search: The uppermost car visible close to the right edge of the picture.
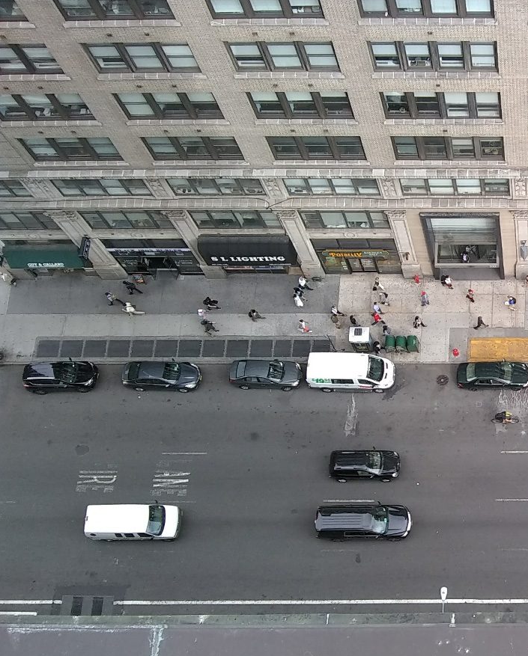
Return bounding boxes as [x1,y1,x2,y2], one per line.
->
[457,355,528,389]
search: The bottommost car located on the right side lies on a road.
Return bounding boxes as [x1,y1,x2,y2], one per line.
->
[314,498,413,540]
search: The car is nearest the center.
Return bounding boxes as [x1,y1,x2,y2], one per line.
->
[228,355,304,391]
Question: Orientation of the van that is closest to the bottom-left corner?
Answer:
horizontally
